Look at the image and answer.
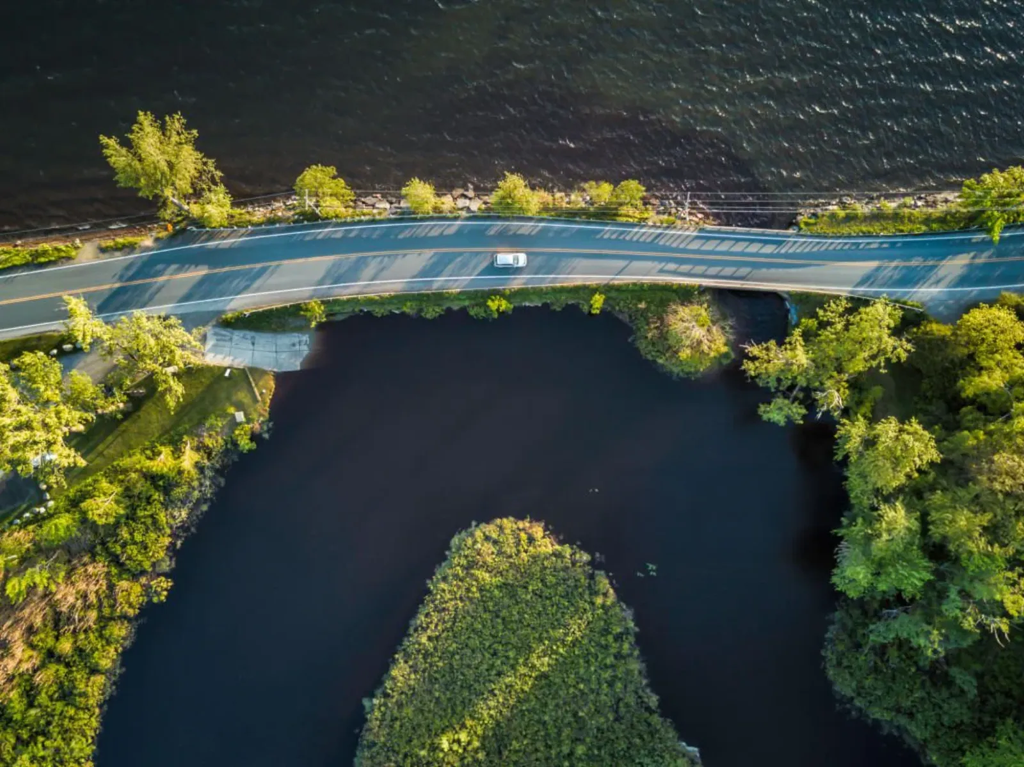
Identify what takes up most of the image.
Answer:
water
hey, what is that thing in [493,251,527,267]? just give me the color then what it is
white car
